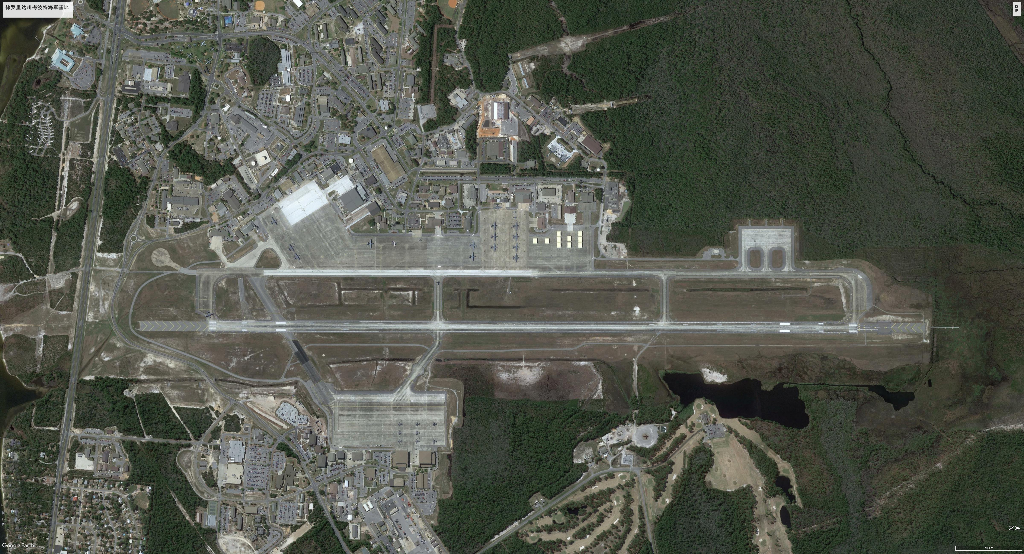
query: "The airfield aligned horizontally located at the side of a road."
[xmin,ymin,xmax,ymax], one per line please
[140,175,925,465]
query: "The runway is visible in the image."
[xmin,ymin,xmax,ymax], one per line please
[209,321,857,333]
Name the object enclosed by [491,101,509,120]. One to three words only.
hangar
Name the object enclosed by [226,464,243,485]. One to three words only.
building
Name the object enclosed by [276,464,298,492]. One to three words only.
building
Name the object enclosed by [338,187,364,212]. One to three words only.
hangar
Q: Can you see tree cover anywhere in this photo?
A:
Yes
